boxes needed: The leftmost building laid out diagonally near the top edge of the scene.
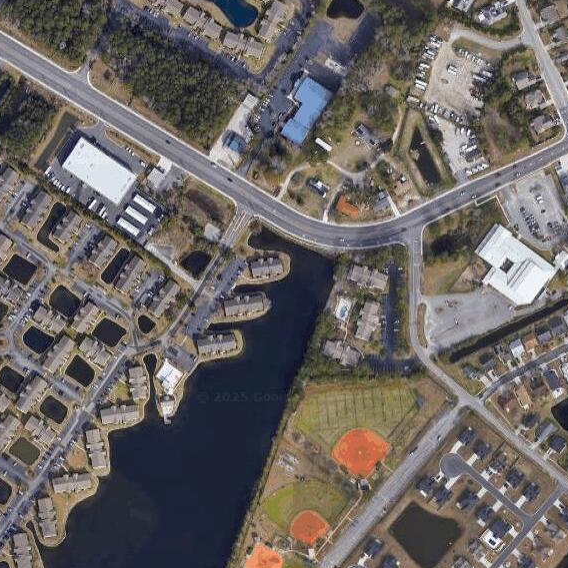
[183,5,223,36]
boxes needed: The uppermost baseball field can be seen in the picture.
[294,382,420,481]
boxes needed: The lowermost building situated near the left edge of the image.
[14,533,32,568]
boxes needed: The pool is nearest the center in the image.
[336,299,351,321]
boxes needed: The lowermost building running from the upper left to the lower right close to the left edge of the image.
[21,412,59,447]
